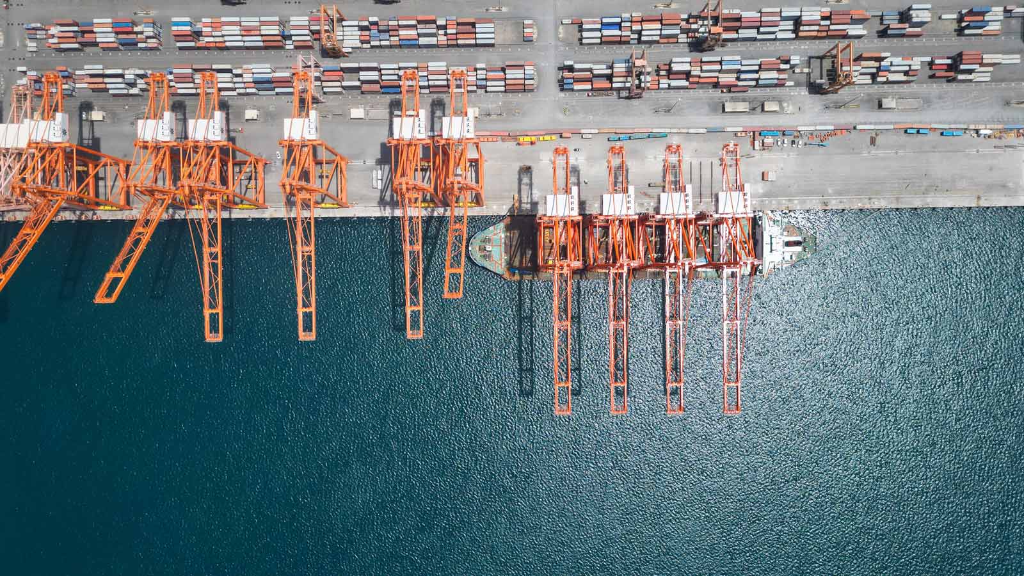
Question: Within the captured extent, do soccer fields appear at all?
No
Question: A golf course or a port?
port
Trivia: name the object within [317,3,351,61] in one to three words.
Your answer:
container crane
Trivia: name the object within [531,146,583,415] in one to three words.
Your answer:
container crane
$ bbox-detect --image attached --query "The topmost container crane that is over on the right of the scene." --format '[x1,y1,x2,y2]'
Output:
[691,0,723,52]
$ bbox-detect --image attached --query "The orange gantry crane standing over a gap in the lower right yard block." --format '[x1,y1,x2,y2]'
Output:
[815,38,854,94]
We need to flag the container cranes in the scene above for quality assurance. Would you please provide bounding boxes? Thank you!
[95,74,228,304]
[298,51,330,105]
[683,143,761,413]
[0,82,91,214]
[619,42,648,99]
[383,70,445,341]
[815,38,854,94]
[317,3,351,61]
[629,144,700,413]
[531,146,583,415]
[175,73,273,344]
[0,75,137,299]
[579,145,639,414]
[691,0,723,52]
[275,71,355,342]
[432,69,491,299]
